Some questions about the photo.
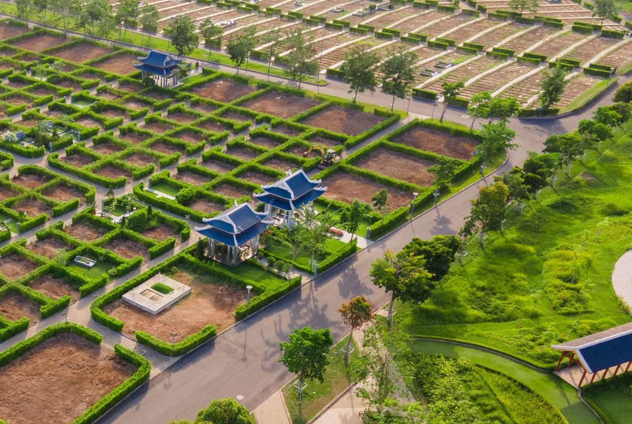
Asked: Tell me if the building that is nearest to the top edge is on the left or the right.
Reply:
left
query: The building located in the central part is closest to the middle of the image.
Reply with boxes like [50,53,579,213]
[250,165,332,232]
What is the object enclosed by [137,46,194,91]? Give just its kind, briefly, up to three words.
building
